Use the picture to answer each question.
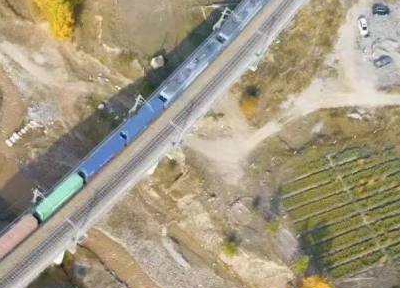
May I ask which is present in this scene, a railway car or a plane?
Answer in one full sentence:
It is a railway car that can be seen here.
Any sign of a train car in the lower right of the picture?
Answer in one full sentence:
No, the scene shows no train car in the lower right of the picture.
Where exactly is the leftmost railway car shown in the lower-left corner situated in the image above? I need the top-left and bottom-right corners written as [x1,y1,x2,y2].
[0,211,39,262]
